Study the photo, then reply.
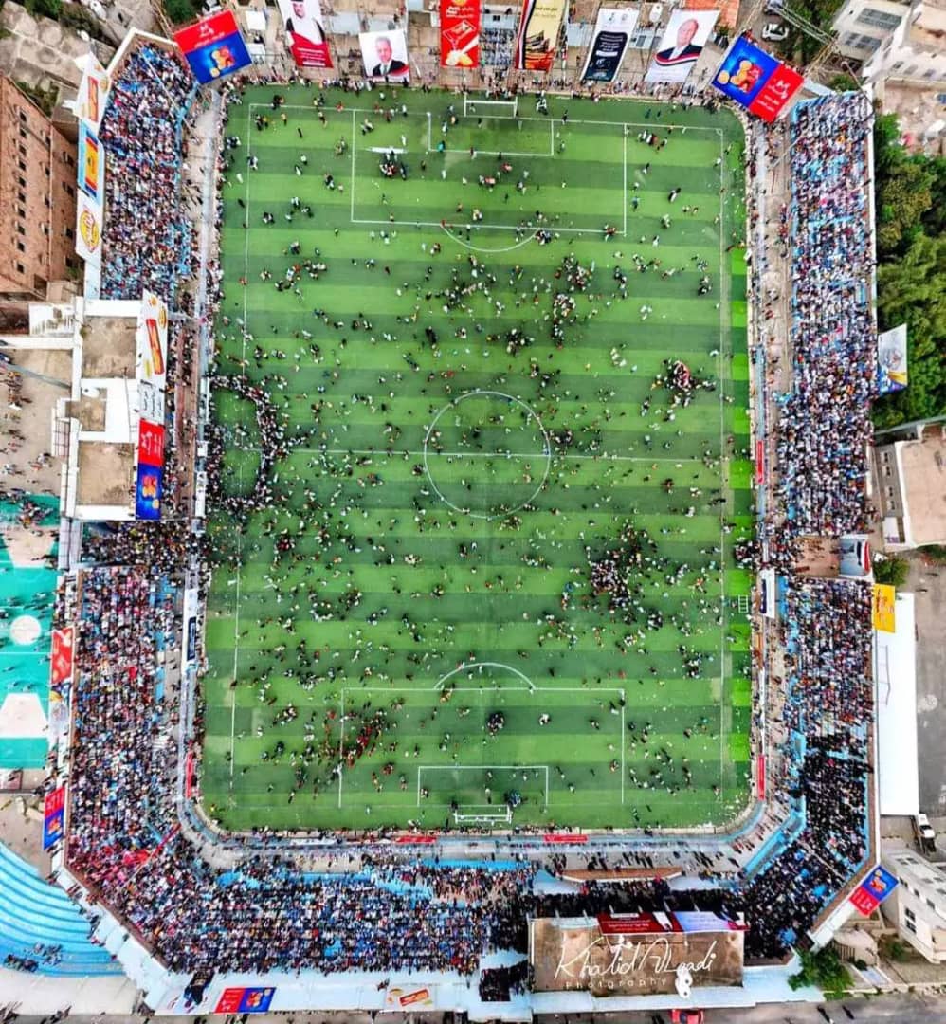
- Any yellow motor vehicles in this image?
No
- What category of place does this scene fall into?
sports ground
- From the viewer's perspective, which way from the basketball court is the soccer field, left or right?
on the right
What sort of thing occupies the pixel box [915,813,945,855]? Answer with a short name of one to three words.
truck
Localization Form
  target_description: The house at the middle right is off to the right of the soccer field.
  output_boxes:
[865,425,946,552]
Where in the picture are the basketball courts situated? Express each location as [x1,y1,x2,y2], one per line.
[0,493,60,768]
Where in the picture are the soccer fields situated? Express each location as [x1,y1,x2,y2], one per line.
[200,85,752,832]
